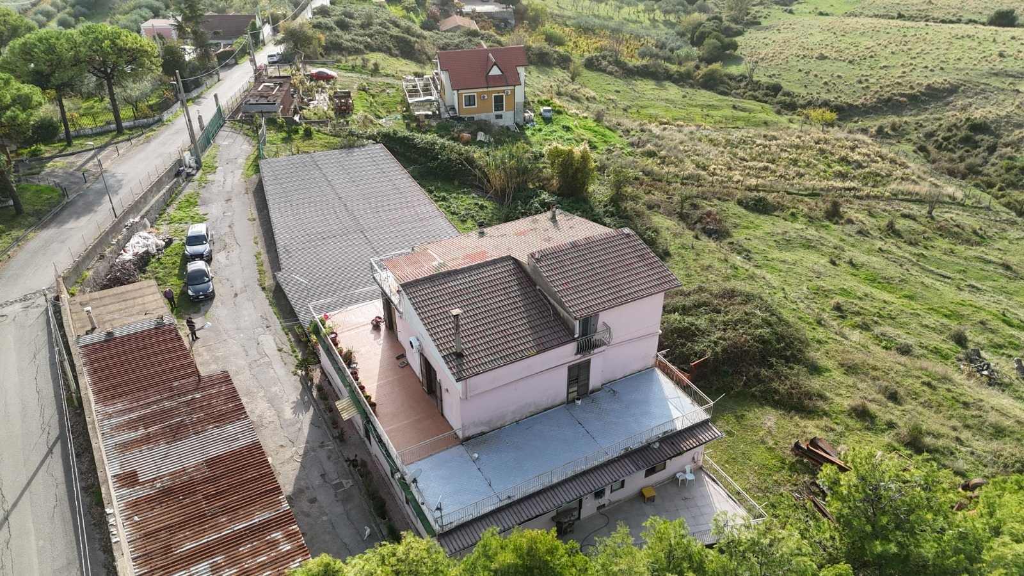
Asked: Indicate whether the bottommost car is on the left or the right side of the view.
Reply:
left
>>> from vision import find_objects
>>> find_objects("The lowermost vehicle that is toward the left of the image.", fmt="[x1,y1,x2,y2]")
[183,257,218,301]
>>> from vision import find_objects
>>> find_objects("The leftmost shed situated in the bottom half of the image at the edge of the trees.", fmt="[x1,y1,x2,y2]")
[70,279,315,576]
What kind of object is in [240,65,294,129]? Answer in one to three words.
building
